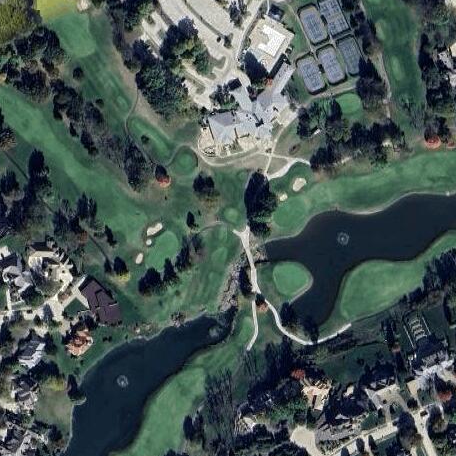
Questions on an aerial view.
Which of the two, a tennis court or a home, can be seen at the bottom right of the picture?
home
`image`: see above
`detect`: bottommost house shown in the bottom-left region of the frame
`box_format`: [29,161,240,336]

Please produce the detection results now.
[0,421,52,456]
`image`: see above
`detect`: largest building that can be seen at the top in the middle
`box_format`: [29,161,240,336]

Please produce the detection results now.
[203,57,301,145]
